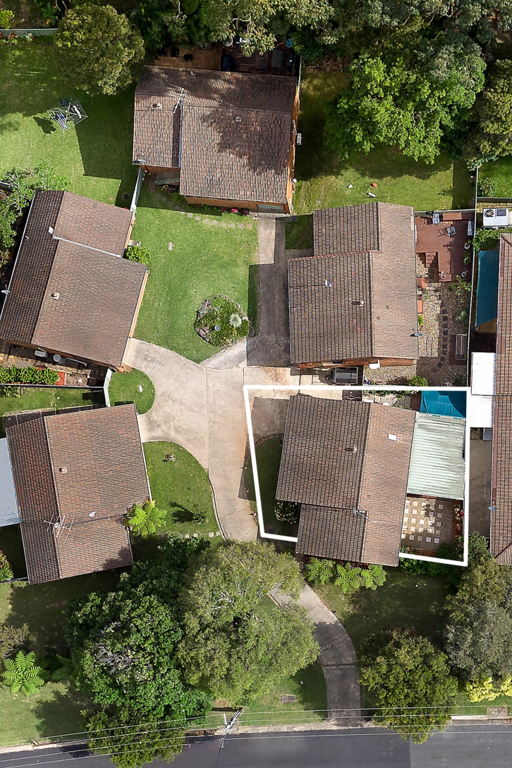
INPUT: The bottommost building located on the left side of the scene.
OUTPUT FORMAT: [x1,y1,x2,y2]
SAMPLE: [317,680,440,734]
[0,404,153,584]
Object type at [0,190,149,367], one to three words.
house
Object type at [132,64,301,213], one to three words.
house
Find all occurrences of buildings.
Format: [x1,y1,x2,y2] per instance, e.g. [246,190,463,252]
[0,190,149,367]
[0,404,153,584]
[132,64,301,213]
[468,233,512,564]
[287,201,421,367]
[275,395,466,567]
